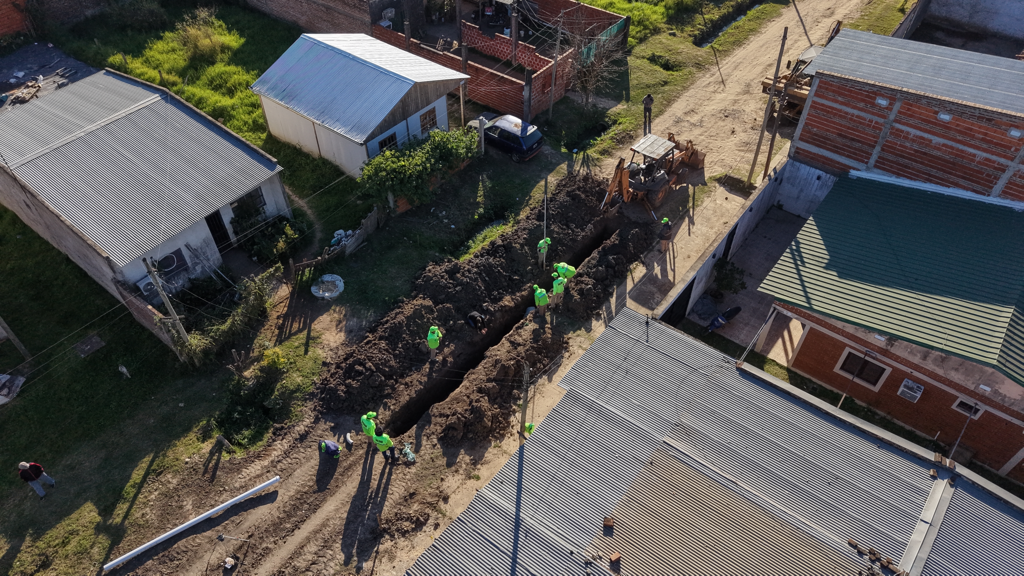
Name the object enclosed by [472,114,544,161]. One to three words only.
car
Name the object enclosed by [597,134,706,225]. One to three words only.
work vehicle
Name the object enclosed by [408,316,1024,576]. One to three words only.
house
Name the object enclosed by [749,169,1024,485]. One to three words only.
house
